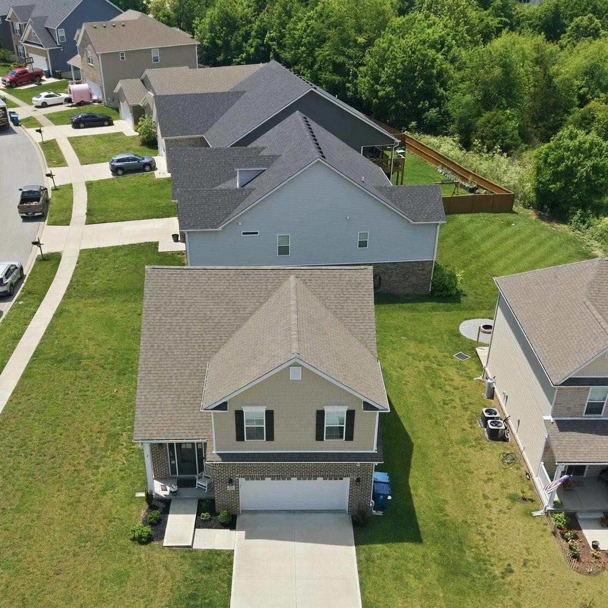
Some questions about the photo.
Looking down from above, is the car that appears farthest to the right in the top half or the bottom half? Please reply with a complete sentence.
The car that appears farthest to the right is in the top half of the image.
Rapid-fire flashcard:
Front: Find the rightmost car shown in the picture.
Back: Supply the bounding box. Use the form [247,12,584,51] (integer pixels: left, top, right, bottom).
[106,151,154,174]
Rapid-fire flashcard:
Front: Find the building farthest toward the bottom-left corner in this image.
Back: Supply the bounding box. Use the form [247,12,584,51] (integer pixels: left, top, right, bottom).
[132,264,390,510]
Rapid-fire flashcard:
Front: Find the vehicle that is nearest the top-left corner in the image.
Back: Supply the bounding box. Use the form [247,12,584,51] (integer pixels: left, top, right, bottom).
[0,68,45,87]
